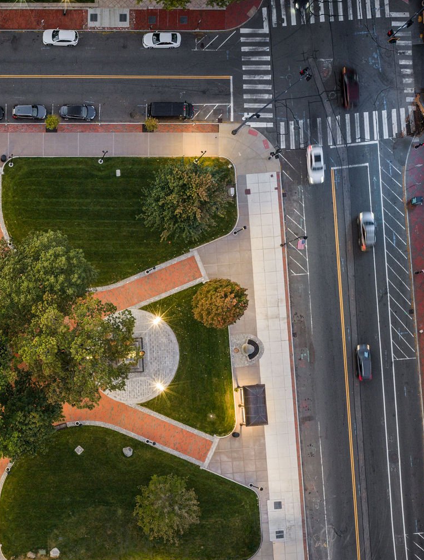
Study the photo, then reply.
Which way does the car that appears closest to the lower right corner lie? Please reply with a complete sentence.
What the image shows is the car that appears closest to the lower right corner lying vertically.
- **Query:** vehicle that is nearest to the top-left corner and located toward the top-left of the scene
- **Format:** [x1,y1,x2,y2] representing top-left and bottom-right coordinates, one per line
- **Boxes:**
[43,25,80,44]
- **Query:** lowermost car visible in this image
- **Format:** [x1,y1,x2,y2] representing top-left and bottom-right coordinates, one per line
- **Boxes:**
[356,344,376,382]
